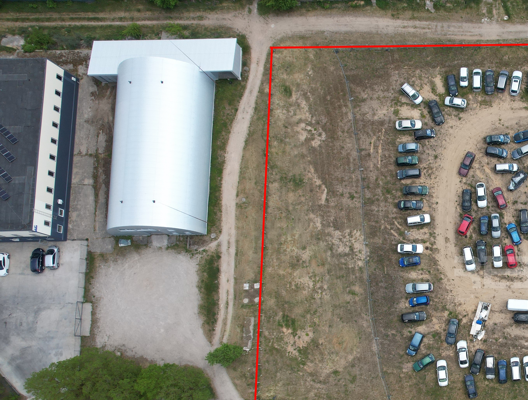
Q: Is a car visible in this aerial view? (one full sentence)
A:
Yes, the photo shows a car.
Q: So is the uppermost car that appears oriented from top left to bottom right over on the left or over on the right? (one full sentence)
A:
The uppermost car that appears oriented from top left to bottom right appears in the right half of the scene.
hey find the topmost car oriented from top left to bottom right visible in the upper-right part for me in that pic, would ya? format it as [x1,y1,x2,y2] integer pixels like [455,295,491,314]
[401,82,422,104]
